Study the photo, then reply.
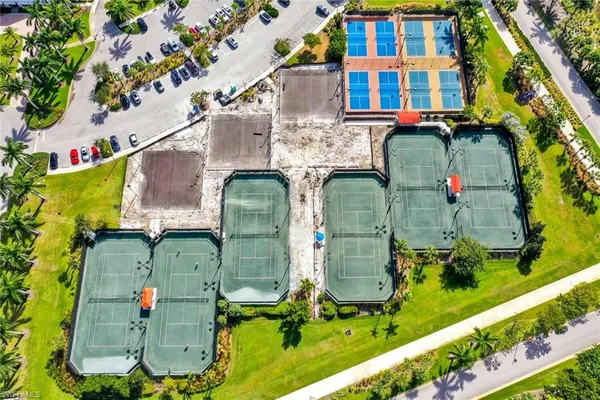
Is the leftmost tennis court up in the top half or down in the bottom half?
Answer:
bottom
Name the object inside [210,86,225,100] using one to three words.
vehicle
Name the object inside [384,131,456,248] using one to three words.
tennis court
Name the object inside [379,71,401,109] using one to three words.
sports court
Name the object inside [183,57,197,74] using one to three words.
vehicle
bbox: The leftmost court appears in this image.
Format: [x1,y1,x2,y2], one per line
[72,233,155,374]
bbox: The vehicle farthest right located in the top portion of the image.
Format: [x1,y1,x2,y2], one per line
[315,2,329,15]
